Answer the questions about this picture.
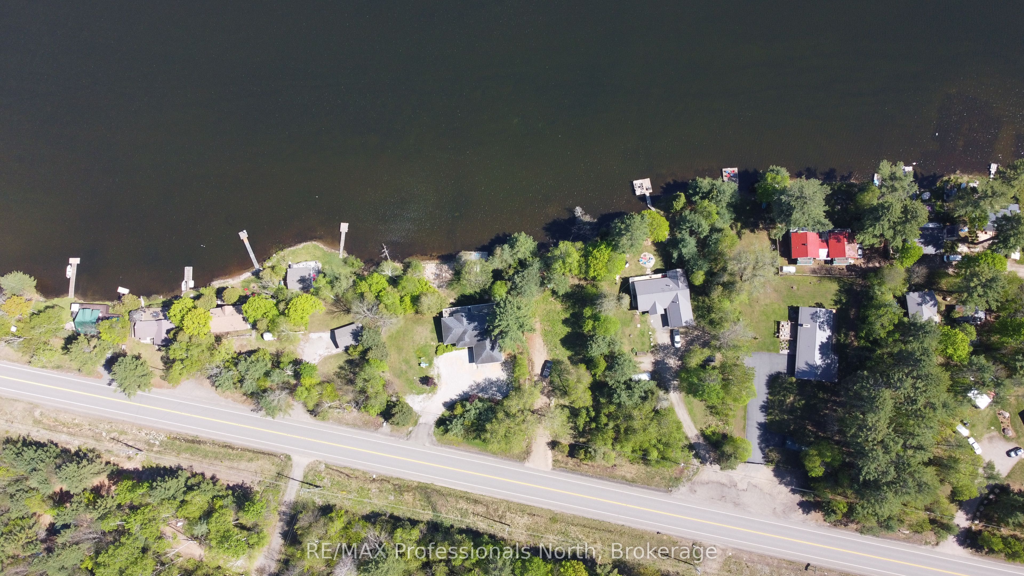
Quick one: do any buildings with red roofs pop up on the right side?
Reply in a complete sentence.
Yes, looking on the right side, one can make out a building with a red roof.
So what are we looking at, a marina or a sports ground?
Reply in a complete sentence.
The area seen from above is a marina.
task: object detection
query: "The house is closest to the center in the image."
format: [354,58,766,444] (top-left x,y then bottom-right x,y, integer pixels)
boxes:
[441,307,503,365]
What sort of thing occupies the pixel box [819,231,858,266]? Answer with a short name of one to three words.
house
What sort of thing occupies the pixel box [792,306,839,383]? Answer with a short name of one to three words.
house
